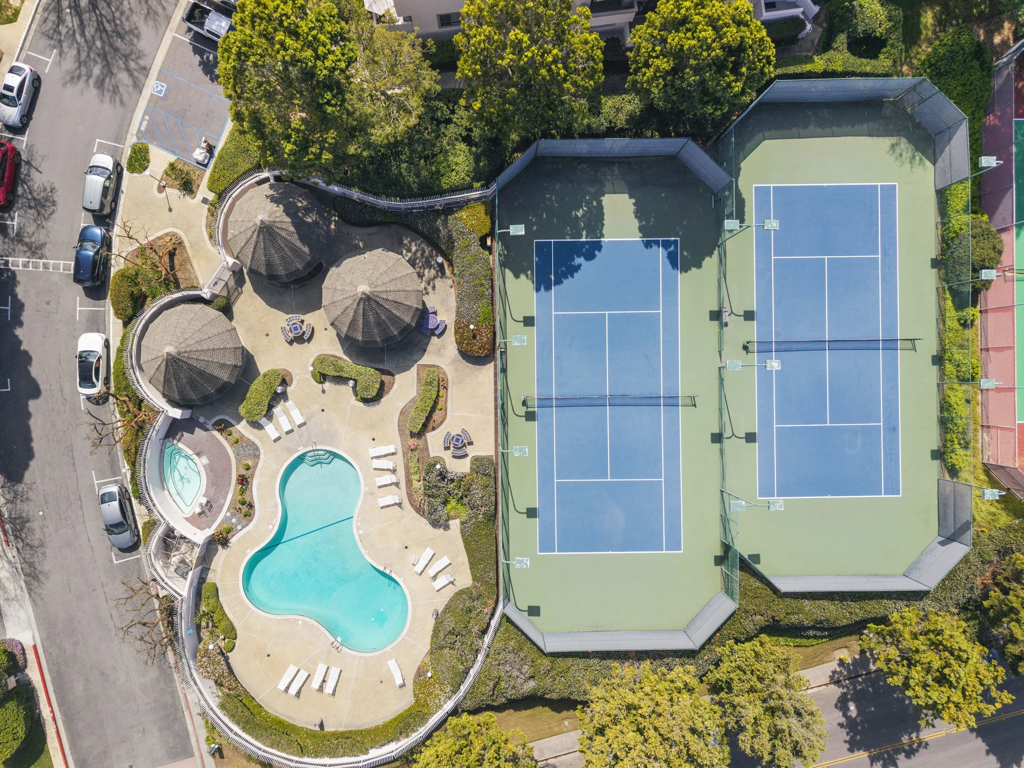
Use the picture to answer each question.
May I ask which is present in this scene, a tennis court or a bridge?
tennis court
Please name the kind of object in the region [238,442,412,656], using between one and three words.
swimming pool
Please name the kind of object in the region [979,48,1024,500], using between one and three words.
tennis court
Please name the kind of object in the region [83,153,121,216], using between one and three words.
car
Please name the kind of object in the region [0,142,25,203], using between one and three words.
car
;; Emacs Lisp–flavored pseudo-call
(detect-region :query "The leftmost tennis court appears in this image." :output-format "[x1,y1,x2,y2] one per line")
[498,155,729,633]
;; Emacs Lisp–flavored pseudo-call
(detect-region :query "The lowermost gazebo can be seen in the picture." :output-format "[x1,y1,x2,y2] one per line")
[142,301,252,405]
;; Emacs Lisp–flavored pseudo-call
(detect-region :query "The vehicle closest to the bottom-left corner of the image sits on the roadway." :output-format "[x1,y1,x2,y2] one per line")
[98,481,138,549]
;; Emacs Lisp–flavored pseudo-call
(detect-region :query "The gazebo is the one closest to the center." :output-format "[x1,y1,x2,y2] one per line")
[322,246,427,350]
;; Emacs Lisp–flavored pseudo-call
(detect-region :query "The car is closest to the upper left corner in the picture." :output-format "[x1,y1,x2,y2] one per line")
[0,58,36,126]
